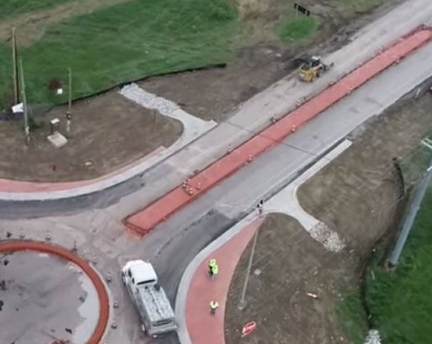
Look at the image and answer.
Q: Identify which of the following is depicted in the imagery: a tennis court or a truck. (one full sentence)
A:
I can see a truck in this picture.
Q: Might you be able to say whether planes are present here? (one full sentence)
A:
No, this view has no plane in it.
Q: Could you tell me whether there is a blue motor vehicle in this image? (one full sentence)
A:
No, I can see no blue motor vehicle in this picture.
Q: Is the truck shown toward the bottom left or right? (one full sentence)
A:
You can find the truck shown toward the bottom on the left side of the picture.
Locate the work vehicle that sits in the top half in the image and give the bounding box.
[301,54,334,84]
